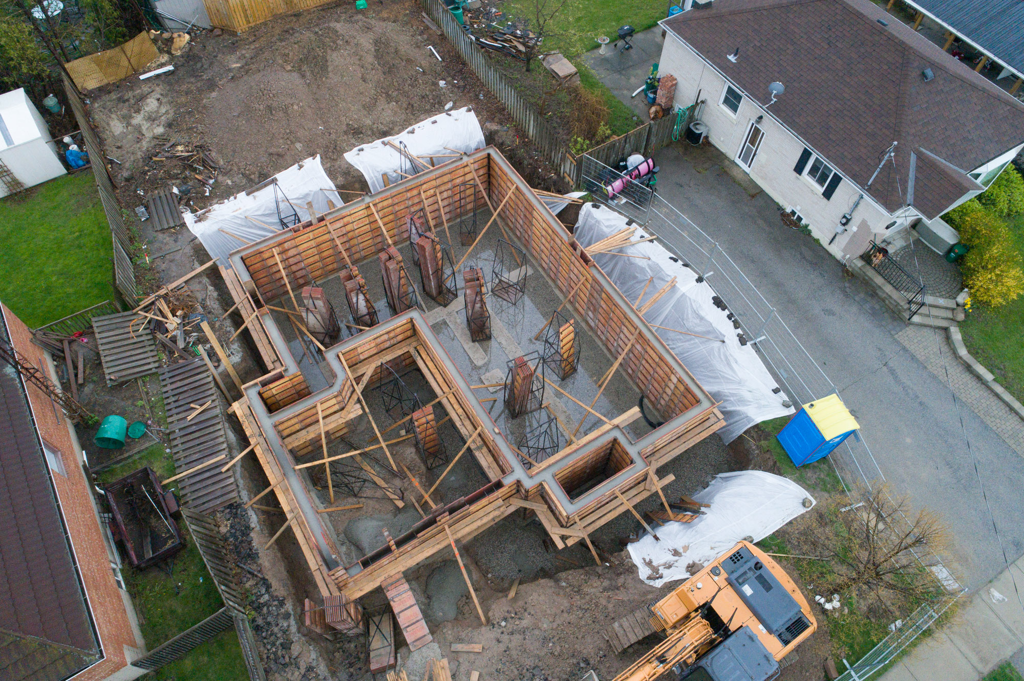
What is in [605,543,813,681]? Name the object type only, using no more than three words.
work vehicle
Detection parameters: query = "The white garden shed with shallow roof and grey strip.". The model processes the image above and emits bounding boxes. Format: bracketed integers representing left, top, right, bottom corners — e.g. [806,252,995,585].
[0,88,67,197]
